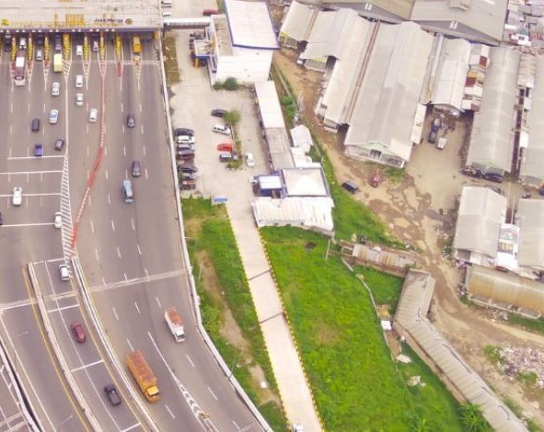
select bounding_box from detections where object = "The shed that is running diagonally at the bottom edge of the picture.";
[395,317,528,432]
